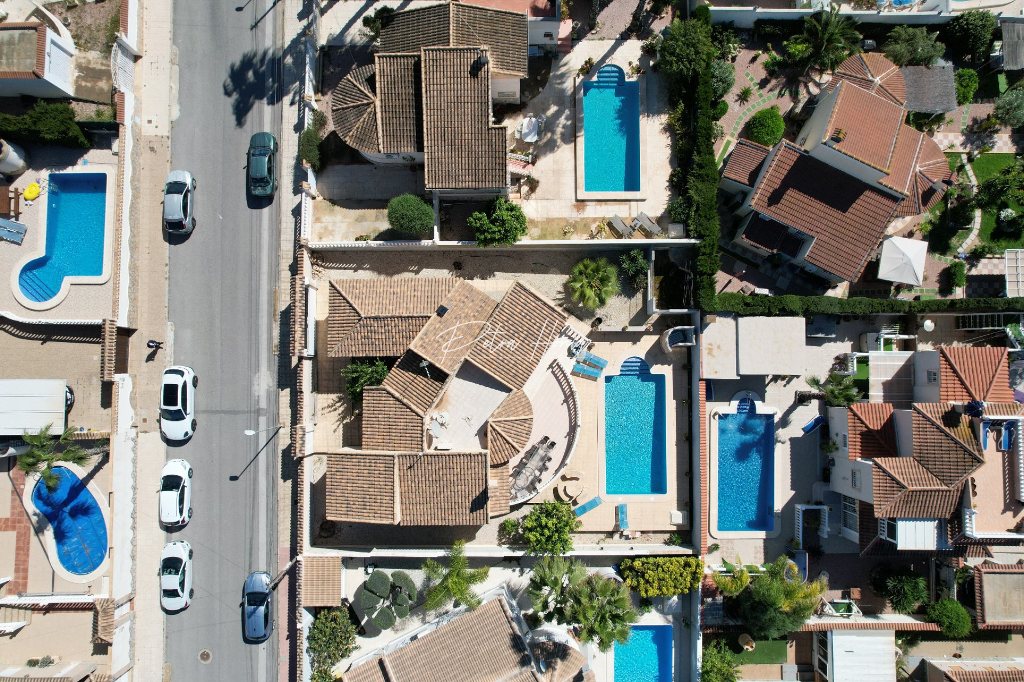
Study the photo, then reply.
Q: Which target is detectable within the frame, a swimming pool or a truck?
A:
swimming pool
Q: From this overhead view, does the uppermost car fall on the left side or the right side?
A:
left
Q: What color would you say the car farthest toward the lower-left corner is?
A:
white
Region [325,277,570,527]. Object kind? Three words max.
house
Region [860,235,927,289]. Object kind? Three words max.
gazebo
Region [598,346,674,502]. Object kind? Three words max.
swimming pool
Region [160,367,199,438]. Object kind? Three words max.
car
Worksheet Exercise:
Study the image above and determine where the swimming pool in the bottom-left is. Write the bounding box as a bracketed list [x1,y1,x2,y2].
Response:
[22,458,109,584]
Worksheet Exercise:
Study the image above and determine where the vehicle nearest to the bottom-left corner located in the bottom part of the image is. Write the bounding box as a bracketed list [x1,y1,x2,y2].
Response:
[158,540,196,610]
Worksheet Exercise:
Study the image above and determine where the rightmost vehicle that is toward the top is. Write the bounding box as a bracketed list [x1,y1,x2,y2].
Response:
[246,133,280,197]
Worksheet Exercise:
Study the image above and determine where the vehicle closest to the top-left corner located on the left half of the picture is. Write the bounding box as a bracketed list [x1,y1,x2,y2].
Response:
[162,172,198,233]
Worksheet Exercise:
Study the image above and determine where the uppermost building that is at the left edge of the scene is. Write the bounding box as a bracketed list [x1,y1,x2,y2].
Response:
[0,22,70,90]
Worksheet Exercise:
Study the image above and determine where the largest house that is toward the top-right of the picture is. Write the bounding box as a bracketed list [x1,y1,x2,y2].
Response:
[716,50,953,283]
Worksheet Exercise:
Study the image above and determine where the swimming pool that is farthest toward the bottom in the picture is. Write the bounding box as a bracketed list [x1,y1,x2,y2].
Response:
[608,617,681,682]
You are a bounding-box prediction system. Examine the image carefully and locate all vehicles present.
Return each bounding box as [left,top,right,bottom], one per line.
[158,459,196,525]
[158,540,196,610]
[246,133,280,197]
[241,570,278,640]
[160,367,199,438]
[162,172,198,233]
